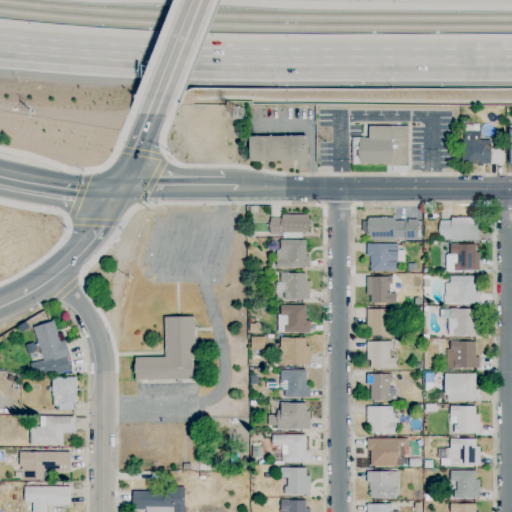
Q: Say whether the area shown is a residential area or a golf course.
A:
residential area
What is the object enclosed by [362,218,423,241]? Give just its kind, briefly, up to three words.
house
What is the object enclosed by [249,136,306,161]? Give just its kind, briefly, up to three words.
building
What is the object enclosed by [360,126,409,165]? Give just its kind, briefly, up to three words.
building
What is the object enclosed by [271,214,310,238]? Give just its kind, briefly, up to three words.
house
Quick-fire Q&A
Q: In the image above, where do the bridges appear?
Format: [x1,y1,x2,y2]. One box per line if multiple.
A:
[126,0,220,118]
